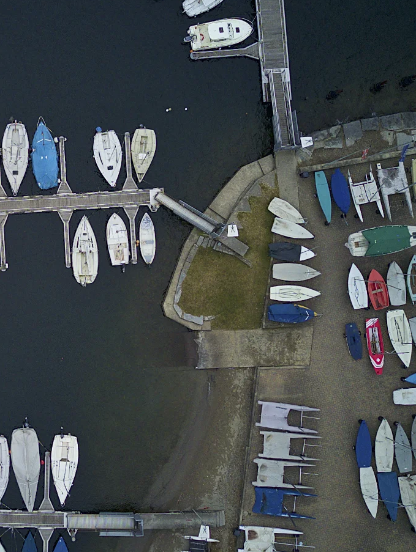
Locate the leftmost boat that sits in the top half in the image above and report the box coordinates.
[2,110,29,208]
